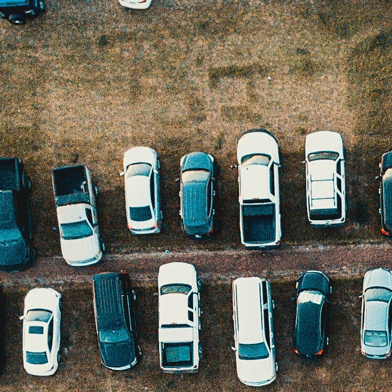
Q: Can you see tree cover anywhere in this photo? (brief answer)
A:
No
